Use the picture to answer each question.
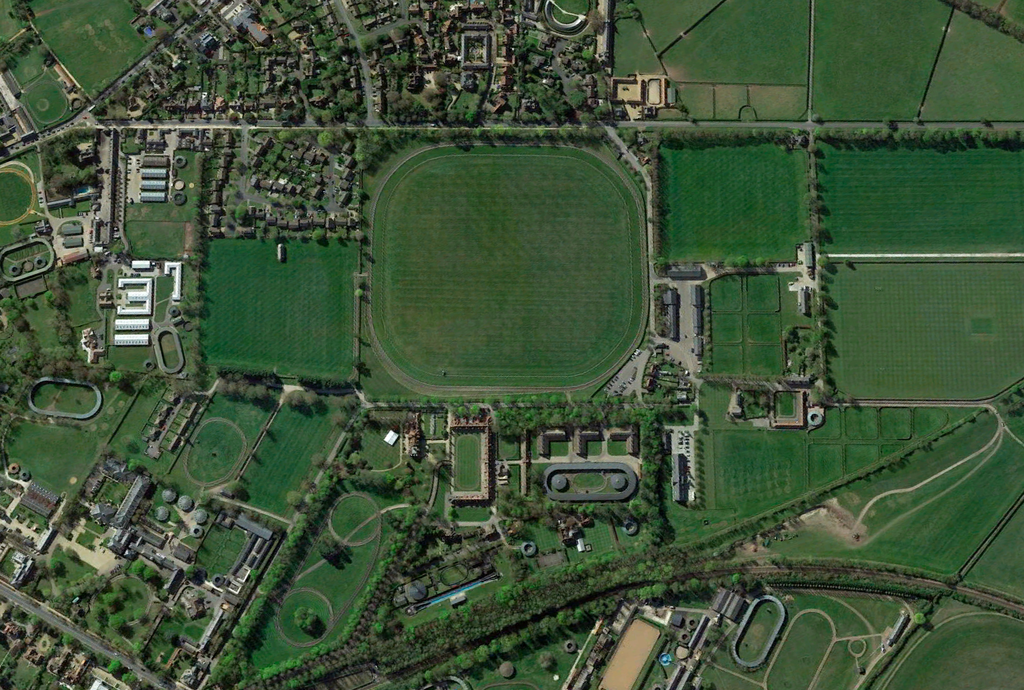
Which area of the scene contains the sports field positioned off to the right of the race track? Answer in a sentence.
Look in the right portion of the view to spot the sports field positioned off to the right of the race track.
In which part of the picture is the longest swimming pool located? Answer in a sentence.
You can find the longest swimming pool in the bottom area of the picture.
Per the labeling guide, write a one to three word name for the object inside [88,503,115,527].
house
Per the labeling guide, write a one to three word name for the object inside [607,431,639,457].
building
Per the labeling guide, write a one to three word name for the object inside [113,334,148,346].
barn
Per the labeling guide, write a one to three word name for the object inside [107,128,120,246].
building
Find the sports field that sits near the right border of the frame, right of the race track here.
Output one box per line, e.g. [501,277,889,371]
[828,263,1024,399]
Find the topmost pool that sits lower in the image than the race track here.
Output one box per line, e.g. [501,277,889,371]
[406,575,500,616]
